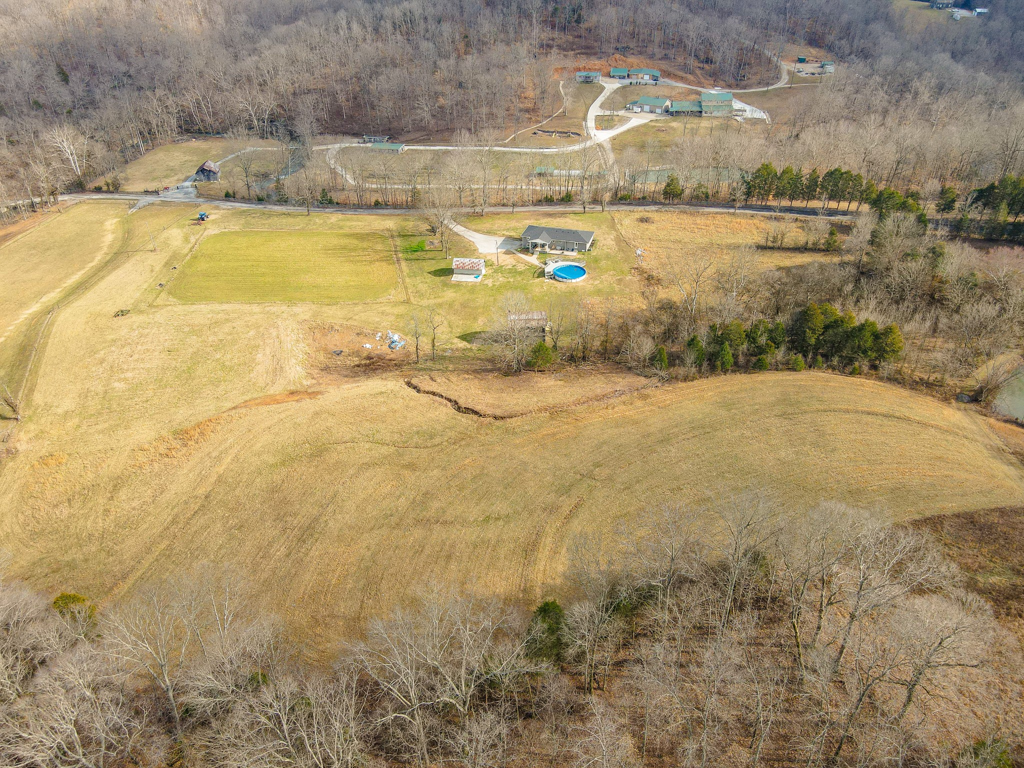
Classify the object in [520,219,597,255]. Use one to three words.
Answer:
house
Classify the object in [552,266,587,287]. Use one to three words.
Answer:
swimming pool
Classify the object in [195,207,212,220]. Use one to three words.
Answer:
vehicle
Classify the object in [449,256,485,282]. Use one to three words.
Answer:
shed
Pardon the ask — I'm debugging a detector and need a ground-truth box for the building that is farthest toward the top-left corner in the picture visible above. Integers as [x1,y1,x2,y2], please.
[190,157,222,182]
